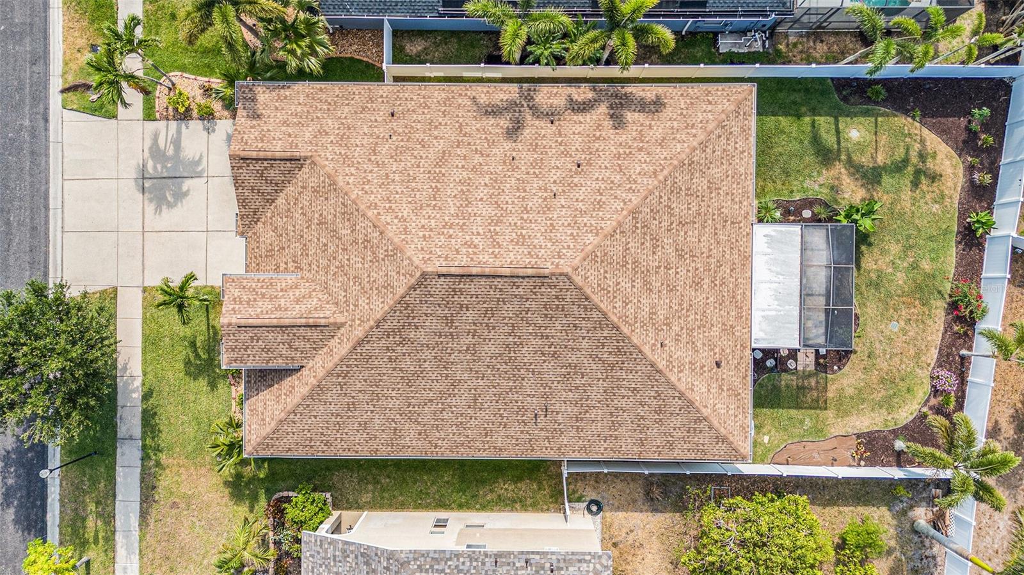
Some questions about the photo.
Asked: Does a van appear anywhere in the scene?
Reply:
No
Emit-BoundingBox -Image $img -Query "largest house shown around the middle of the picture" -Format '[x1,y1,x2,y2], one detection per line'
[218,80,758,461]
